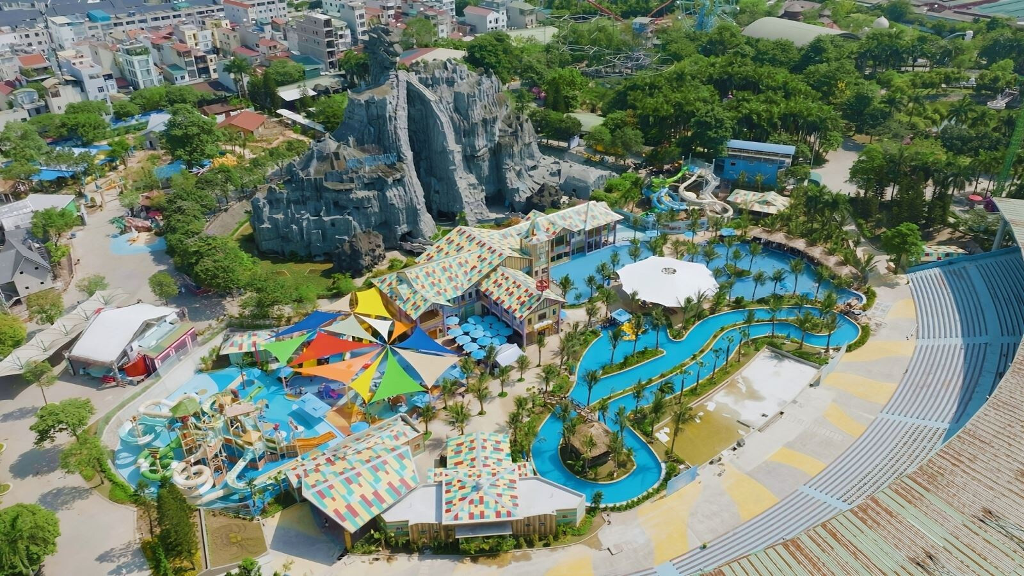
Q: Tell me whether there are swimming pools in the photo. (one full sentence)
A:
Yes, a swimming pool can be made out from above.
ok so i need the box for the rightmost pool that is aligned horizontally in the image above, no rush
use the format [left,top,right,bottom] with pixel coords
[684,240,863,305]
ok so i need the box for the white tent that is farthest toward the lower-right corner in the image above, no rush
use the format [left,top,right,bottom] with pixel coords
[616,256,719,321]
